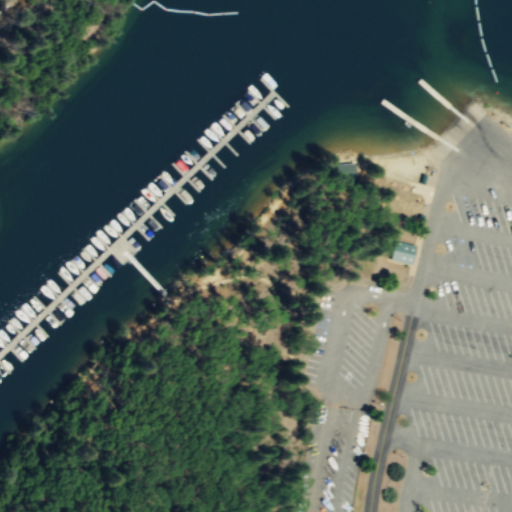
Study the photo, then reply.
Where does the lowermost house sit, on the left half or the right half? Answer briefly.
right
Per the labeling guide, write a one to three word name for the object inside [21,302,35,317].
boat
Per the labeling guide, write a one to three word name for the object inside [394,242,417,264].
house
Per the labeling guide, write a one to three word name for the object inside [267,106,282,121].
boat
